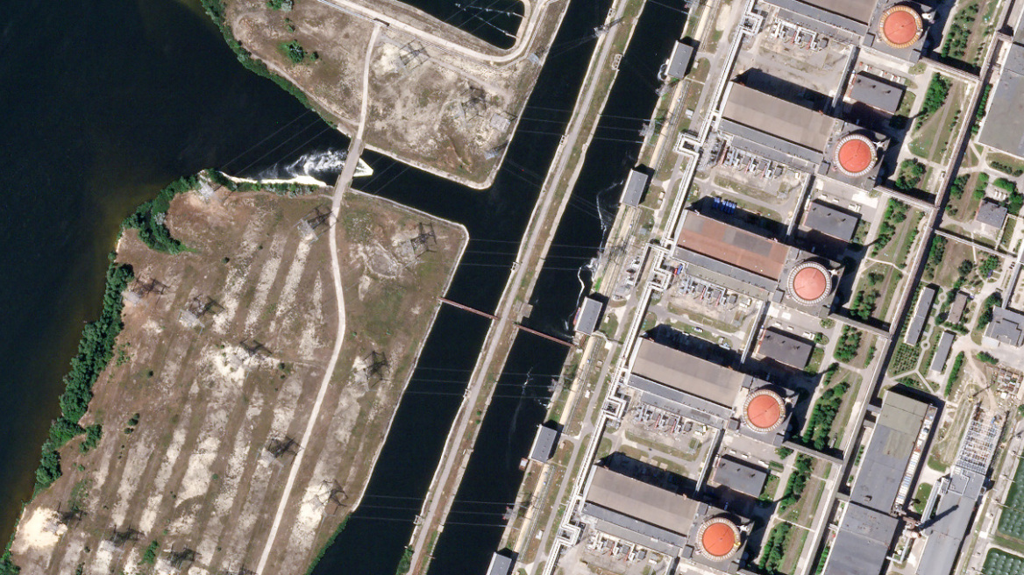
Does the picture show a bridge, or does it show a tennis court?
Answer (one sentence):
It is a bridge that can be seen here.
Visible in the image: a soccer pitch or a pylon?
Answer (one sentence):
I can see a pylon in this picture.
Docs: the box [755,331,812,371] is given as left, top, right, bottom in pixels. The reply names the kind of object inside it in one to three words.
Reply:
building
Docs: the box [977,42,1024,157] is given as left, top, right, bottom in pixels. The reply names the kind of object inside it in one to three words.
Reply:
shed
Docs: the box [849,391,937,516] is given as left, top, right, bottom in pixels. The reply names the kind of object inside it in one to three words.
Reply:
building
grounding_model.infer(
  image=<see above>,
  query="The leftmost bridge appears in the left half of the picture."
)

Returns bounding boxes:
[332,138,364,199]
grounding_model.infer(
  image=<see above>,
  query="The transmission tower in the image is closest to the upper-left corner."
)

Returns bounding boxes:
[201,181,222,206]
